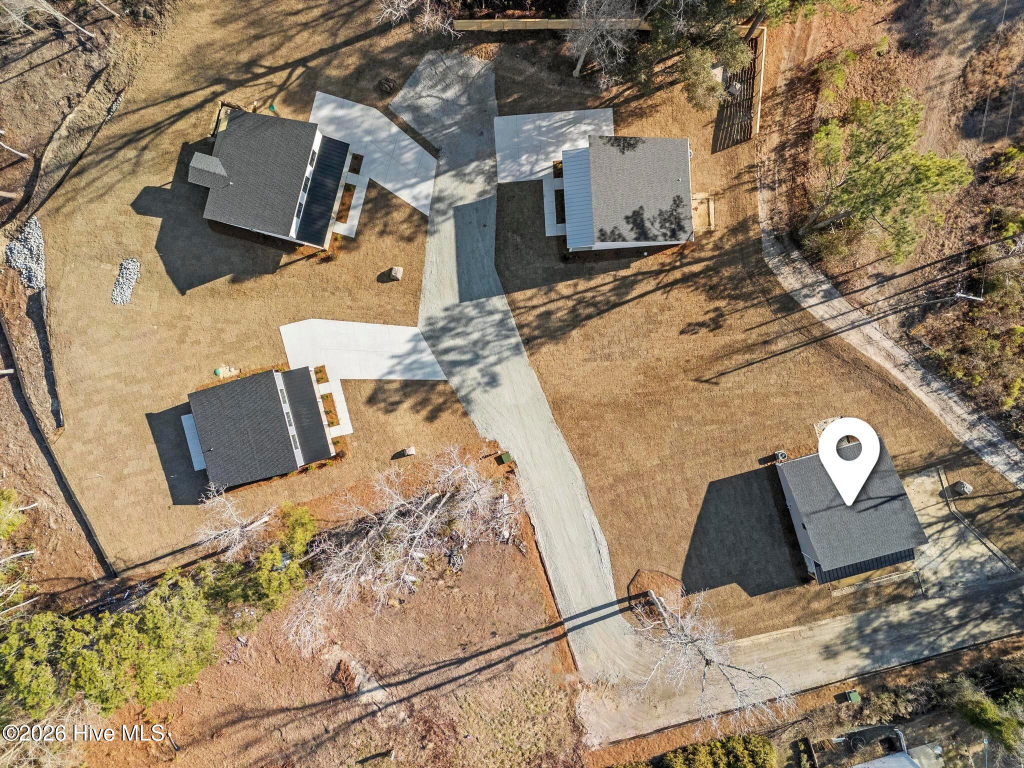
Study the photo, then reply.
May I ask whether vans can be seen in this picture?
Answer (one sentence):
No, there's no van here.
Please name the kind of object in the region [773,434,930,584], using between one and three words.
house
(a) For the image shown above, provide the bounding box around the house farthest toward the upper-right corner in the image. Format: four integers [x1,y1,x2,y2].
[564,134,698,255]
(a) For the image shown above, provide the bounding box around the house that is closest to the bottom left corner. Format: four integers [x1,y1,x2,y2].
[186,367,335,491]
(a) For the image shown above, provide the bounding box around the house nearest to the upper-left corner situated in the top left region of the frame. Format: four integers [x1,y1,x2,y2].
[187,109,351,252]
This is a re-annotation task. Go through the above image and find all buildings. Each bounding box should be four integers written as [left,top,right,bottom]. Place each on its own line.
[186,367,335,491]
[187,109,351,252]
[564,134,698,255]
[835,739,919,768]
[773,434,930,584]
